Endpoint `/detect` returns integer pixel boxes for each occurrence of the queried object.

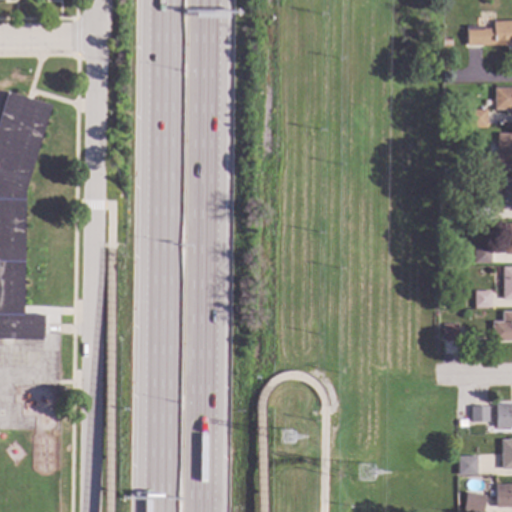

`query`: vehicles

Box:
[146,500,155,512]
[212,117,219,131]
[160,120,166,131]
[212,310,218,322]
[160,0,168,10]
[84,343,90,356]
[151,53,156,62]
[200,416,208,483]
[196,162,202,177]
[211,393,217,408]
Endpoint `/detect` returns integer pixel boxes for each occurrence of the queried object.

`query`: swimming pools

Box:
[467,476,486,490]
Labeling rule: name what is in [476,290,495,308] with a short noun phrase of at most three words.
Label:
building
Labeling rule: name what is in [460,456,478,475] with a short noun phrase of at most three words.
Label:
building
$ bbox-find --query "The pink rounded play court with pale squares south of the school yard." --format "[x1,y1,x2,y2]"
[32,434,60,478]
